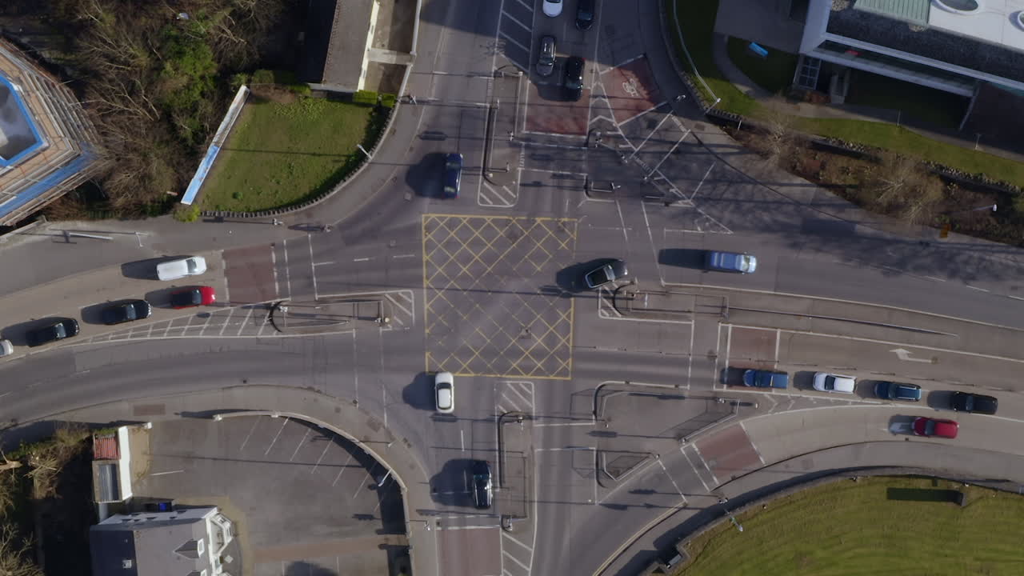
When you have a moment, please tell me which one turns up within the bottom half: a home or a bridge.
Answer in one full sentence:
Visible within the bottom half is a home.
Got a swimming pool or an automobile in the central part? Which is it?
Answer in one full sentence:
It is an automobile that can be seen in the central part.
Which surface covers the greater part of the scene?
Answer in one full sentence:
Most of the picture is covered by paved ground.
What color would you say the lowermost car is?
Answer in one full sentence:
The lowermost car is black.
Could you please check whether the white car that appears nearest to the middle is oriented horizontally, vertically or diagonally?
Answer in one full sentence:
What the image shows is the white car that appears nearest to the middle lying vertically.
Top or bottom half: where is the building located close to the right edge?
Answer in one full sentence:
The top half of the photo is where the building located close to the right edge is.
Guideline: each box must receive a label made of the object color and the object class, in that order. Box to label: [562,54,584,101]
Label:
black car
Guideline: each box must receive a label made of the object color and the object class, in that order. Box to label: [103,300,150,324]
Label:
black car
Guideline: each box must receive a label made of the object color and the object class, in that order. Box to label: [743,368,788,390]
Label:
blue car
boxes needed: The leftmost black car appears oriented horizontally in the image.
[28,318,78,345]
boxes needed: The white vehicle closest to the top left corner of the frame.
[157,255,206,281]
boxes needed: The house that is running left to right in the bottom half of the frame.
[89,508,237,576]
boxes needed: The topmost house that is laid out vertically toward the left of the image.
[315,0,380,98]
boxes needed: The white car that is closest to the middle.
[434,372,455,412]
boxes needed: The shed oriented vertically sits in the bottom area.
[93,423,133,521]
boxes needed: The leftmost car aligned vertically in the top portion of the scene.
[442,153,463,198]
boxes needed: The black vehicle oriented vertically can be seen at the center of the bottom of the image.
[471,461,492,508]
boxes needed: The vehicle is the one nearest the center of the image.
[583,259,629,288]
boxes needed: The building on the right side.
[791,0,1024,144]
